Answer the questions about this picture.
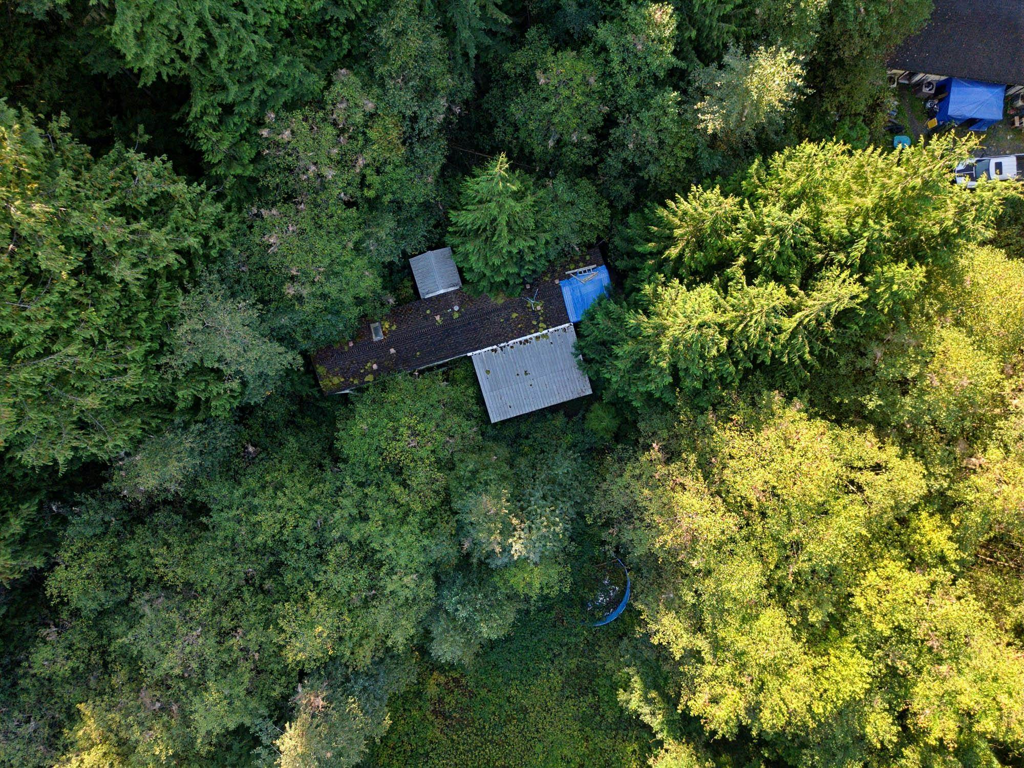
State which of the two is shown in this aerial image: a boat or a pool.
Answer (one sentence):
The image shows a pool.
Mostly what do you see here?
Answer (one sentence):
For the most part, this view shows trees.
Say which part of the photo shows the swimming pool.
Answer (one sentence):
The swimming pool appears toward the bottom of the photo.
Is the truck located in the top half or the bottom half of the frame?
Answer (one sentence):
You can find the truck in the top half.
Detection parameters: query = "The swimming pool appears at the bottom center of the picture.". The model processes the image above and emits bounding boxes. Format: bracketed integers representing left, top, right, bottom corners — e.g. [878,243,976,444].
[560,551,631,627]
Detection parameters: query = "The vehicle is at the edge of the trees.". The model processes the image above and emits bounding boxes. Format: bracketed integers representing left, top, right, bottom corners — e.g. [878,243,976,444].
[950,155,1024,191]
